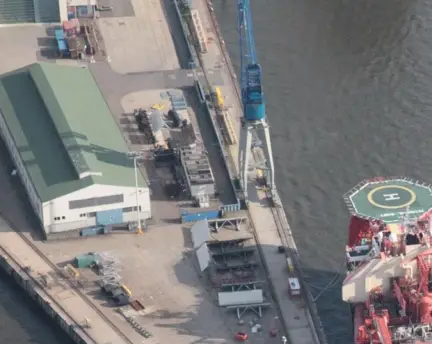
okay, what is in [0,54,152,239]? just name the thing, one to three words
warehouse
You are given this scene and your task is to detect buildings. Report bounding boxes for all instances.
[0,0,71,26]
[0,54,152,239]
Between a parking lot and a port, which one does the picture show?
port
